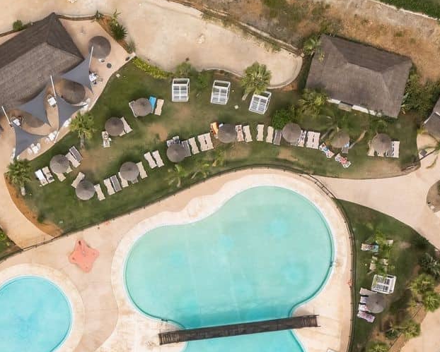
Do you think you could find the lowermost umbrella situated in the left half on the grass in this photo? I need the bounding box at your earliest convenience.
[74,179,95,200]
